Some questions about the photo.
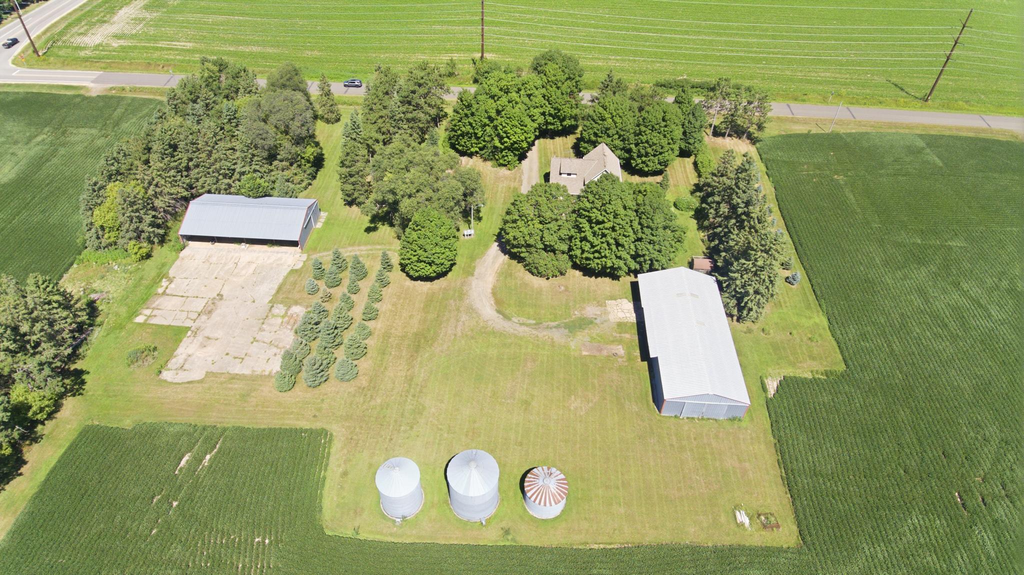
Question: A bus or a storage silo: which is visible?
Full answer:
Of the two, only a storage silo appears.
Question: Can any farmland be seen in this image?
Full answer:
Yes, farmland shows up in the scene.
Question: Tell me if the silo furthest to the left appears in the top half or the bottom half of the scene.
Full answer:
The silo furthest to the left is in the bottom half of the image.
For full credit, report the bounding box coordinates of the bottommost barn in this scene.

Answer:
[636,267,749,419]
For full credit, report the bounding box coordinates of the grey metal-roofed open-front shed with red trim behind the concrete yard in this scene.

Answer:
[177,193,319,251]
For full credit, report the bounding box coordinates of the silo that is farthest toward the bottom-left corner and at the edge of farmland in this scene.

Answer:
[378,457,427,524]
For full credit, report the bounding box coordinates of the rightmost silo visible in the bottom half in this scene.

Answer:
[522,467,568,519]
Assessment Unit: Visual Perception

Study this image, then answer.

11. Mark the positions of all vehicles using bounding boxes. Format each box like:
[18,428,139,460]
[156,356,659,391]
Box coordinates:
[343,80,362,89]
[0,38,18,48]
